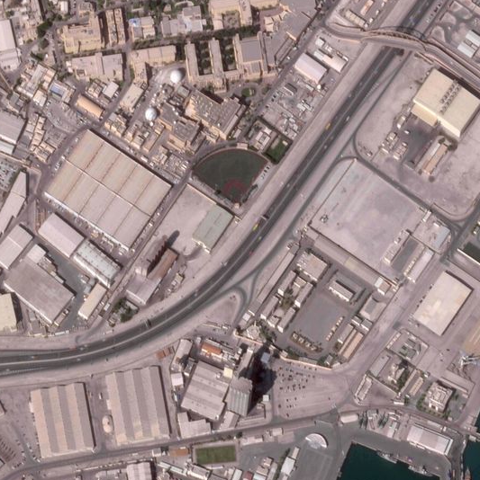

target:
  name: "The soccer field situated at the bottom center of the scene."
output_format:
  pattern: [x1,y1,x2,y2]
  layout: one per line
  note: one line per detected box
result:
[193,443,238,466]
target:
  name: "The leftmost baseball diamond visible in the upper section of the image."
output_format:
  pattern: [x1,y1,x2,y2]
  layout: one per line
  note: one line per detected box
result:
[192,148,269,204]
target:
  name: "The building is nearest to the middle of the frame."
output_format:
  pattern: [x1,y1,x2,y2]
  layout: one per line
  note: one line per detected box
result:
[193,206,234,251]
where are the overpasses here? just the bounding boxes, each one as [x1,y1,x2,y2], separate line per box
[315,21,480,90]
